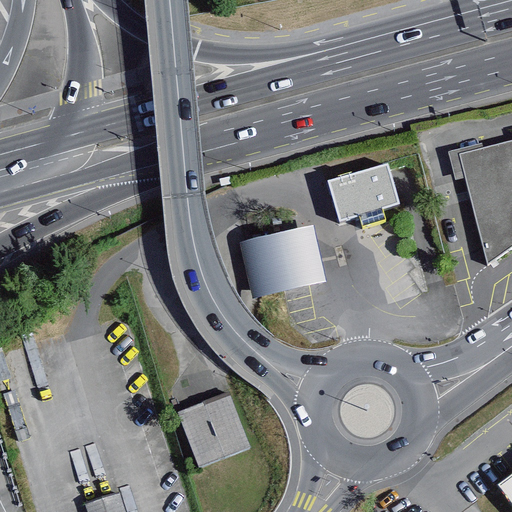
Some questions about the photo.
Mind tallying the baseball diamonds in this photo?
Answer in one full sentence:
There are no baseball diamonds in the image.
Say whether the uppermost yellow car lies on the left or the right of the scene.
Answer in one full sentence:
The uppermost yellow car is on the left side of the image.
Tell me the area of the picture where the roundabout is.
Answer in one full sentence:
You can find the roundabout in the bottom right area of the picture.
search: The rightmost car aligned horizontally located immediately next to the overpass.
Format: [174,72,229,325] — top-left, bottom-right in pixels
[301,354,327,366]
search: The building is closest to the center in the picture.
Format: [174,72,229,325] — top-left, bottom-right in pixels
[240,225,326,298]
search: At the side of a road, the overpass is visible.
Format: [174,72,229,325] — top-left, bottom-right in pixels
[144,0,302,399]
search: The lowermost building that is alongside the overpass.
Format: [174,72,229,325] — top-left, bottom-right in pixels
[182,390,251,468]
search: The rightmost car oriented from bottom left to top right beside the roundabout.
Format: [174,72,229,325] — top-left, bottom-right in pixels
[466,328,486,345]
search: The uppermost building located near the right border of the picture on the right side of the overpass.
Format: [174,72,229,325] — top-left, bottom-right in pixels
[448,140,512,267]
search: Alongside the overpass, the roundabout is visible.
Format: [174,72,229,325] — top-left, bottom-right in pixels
[288,340,464,512]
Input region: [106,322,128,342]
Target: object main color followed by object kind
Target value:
yellow car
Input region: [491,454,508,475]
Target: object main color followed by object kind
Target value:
black car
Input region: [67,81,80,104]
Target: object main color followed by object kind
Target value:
white vehicle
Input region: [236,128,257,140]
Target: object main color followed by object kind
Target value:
white vehicle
